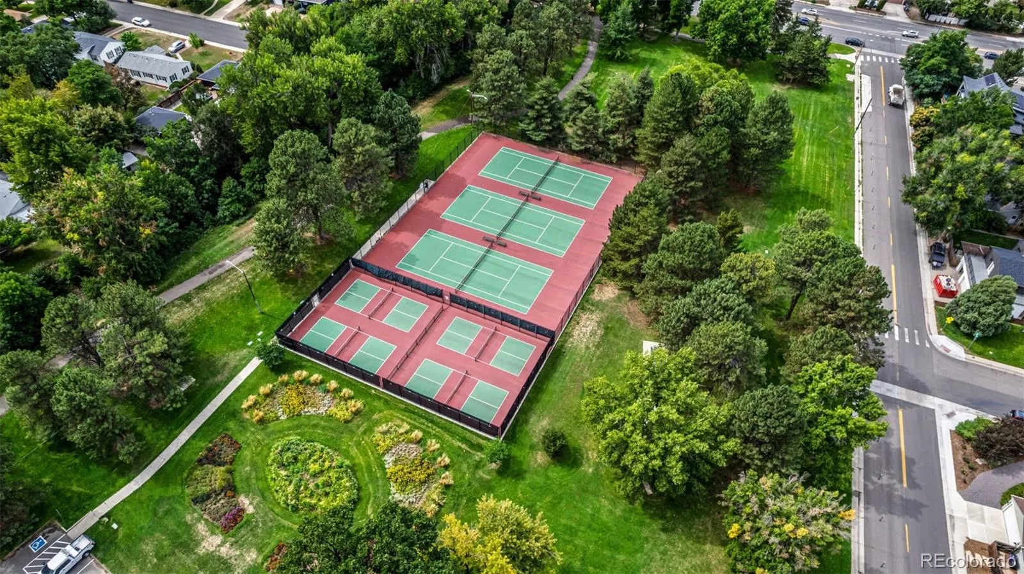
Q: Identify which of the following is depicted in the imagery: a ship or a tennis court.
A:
tennis court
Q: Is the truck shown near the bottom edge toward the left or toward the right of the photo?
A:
left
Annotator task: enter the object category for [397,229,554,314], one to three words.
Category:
tennis court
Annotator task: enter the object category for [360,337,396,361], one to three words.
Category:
sports court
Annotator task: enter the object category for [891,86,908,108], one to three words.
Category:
vehicle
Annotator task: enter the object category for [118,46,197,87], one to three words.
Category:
house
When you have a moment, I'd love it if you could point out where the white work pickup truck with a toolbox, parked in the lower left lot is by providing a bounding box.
[43,536,99,574]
